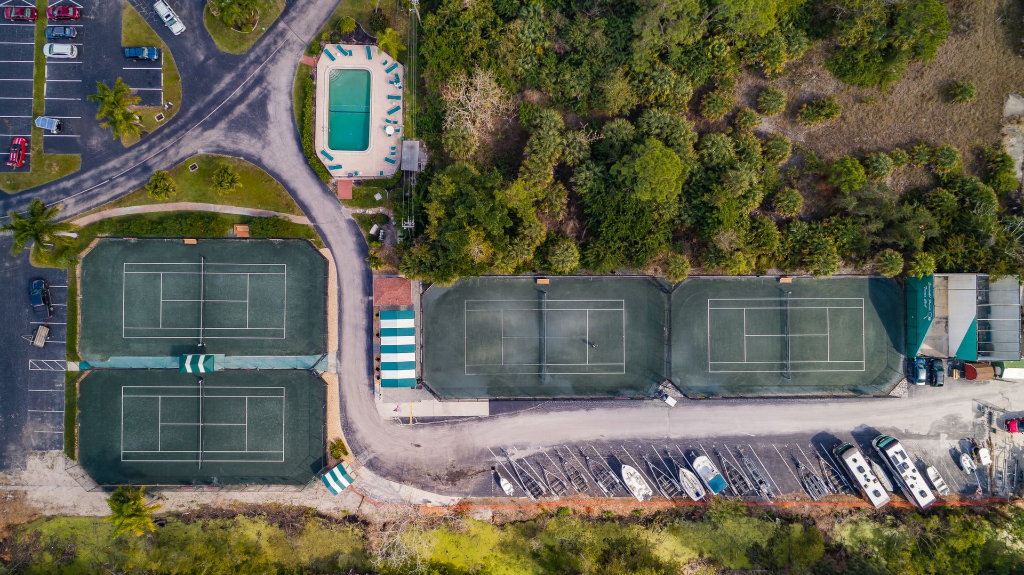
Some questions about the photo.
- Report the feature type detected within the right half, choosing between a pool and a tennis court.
tennis court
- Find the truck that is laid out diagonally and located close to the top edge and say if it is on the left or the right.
left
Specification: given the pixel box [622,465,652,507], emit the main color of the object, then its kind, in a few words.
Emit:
white boat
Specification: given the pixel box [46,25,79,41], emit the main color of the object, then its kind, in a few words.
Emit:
blue car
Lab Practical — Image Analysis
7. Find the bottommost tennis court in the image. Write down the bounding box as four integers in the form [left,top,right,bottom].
[80,370,323,486]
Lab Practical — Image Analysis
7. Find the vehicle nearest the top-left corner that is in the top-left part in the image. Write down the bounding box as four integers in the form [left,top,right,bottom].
[5,5,41,22]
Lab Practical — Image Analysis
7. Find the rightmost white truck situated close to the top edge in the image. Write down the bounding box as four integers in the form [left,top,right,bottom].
[152,0,186,36]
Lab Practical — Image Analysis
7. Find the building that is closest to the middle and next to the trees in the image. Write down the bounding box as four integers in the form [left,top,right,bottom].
[374,277,412,306]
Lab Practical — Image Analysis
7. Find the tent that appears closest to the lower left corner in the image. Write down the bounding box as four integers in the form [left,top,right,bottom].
[322,460,357,495]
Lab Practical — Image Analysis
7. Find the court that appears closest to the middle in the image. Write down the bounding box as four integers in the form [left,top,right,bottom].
[423,277,666,400]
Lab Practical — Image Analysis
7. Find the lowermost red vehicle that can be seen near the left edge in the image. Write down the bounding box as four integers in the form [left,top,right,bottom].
[7,135,30,169]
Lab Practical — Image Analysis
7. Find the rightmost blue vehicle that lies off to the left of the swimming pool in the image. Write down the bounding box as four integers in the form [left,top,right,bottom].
[125,45,160,62]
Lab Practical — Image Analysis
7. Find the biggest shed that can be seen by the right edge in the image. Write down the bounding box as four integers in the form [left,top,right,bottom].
[966,363,1004,383]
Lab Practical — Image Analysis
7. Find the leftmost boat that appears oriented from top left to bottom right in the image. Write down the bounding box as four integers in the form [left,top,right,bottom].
[501,478,514,496]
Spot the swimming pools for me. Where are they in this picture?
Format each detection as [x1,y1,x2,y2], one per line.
[315,44,402,178]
